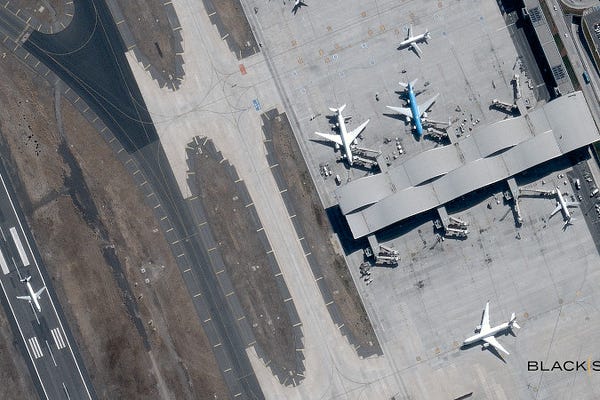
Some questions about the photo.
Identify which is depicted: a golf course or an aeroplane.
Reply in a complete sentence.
Looking from above, you can make out an aeroplane.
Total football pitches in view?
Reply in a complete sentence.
There are no football pitches in this view.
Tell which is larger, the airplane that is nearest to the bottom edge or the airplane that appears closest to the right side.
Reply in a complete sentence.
Of the two, the airplane that is nearest to the bottom edge is bigger, while the airplane that appears closest to the right side is smaller.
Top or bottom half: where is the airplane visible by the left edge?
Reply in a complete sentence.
The bottom half of the photo is where the airplane visible by the left edge is.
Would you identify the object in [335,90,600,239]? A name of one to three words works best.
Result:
building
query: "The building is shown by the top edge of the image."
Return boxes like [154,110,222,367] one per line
[523,0,572,89]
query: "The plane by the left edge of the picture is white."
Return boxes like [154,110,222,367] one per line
[16,275,46,313]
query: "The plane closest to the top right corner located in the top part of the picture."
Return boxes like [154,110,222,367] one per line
[400,24,432,54]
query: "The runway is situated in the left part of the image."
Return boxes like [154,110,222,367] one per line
[0,152,100,400]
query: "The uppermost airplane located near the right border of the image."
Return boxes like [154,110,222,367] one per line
[551,187,582,225]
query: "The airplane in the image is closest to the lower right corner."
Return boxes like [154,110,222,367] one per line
[463,302,521,353]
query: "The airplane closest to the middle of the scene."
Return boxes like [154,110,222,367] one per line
[315,105,370,166]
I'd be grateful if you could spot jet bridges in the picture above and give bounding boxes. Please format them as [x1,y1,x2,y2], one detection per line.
[449,217,469,227]
[428,127,449,136]
[354,155,377,165]
[354,146,382,154]
[515,197,522,224]
[492,100,517,108]
[519,189,555,194]
[424,118,452,124]
[379,245,399,255]
[446,228,469,234]
[515,75,521,99]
